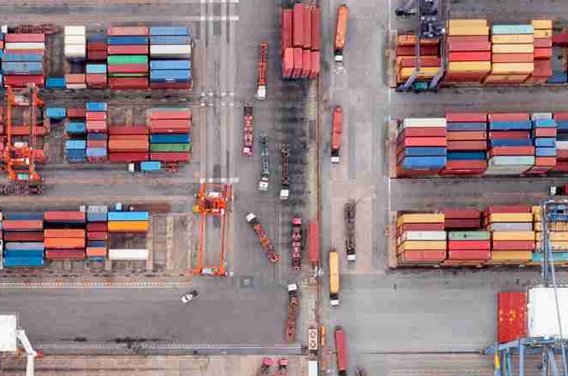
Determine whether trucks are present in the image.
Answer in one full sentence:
Yes, there's a truck here.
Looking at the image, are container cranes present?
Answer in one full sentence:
Yes, the picture does show a container crane.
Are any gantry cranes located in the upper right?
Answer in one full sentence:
Yes, there is a gantry crane in the upper right.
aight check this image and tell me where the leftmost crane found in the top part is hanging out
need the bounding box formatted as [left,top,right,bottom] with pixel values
[4,80,50,180]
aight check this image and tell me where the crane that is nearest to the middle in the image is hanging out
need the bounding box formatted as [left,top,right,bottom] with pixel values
[193,180,234,273]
